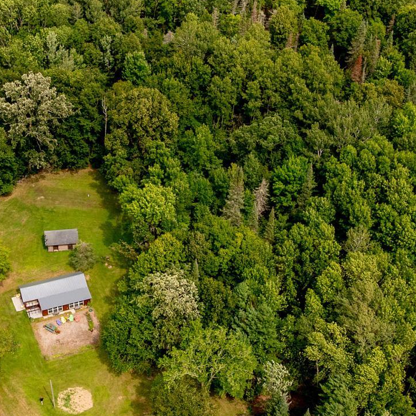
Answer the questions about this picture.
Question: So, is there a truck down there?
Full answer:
No, there isn't any truck down there.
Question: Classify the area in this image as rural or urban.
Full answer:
The area is rural.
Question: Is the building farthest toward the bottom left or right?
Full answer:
It is on the left.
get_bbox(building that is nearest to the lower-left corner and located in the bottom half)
[15,270,93,320]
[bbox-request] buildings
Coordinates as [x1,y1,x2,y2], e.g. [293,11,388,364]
[15,270,93,320]
[43,227,76,253]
